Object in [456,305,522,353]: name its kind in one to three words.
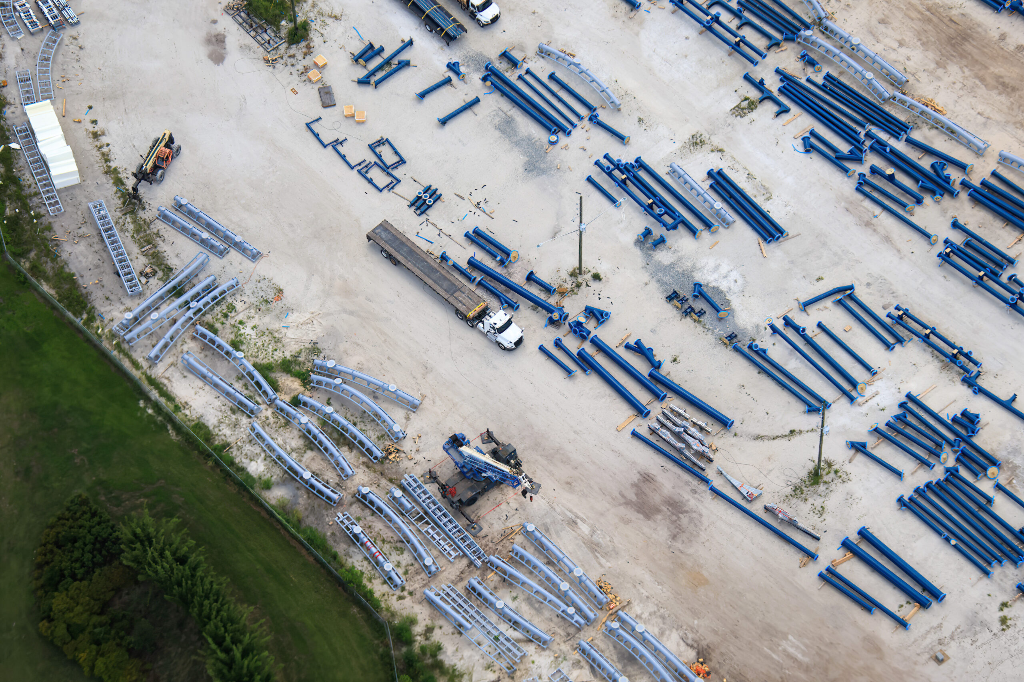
truck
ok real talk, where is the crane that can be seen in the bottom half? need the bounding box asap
[426,428,537,531]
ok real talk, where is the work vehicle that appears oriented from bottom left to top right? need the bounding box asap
[124,129,182,206]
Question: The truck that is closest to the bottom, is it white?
Yes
